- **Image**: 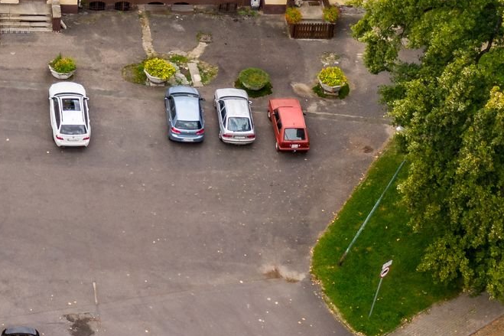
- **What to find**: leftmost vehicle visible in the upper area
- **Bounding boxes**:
[44,78,90,147]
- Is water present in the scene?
No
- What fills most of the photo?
paved ground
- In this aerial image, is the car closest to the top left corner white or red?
white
